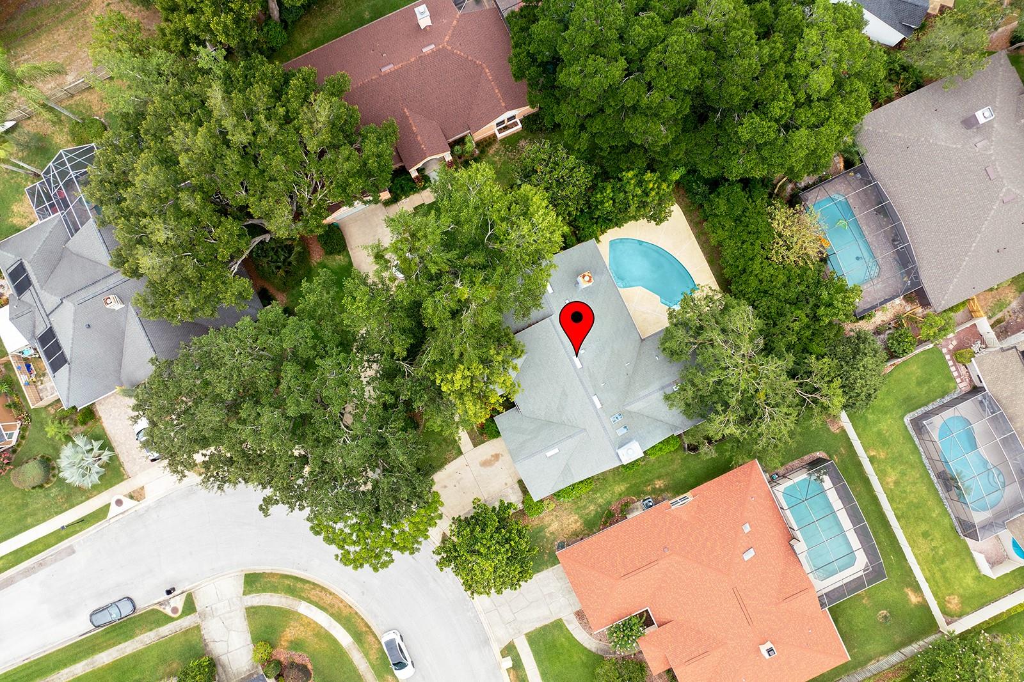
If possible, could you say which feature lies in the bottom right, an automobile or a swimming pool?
swimming pool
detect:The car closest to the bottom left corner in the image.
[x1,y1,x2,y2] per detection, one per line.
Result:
[83,597,135,632]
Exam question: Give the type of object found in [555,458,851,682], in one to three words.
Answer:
house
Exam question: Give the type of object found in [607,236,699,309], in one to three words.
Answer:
swimming pool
